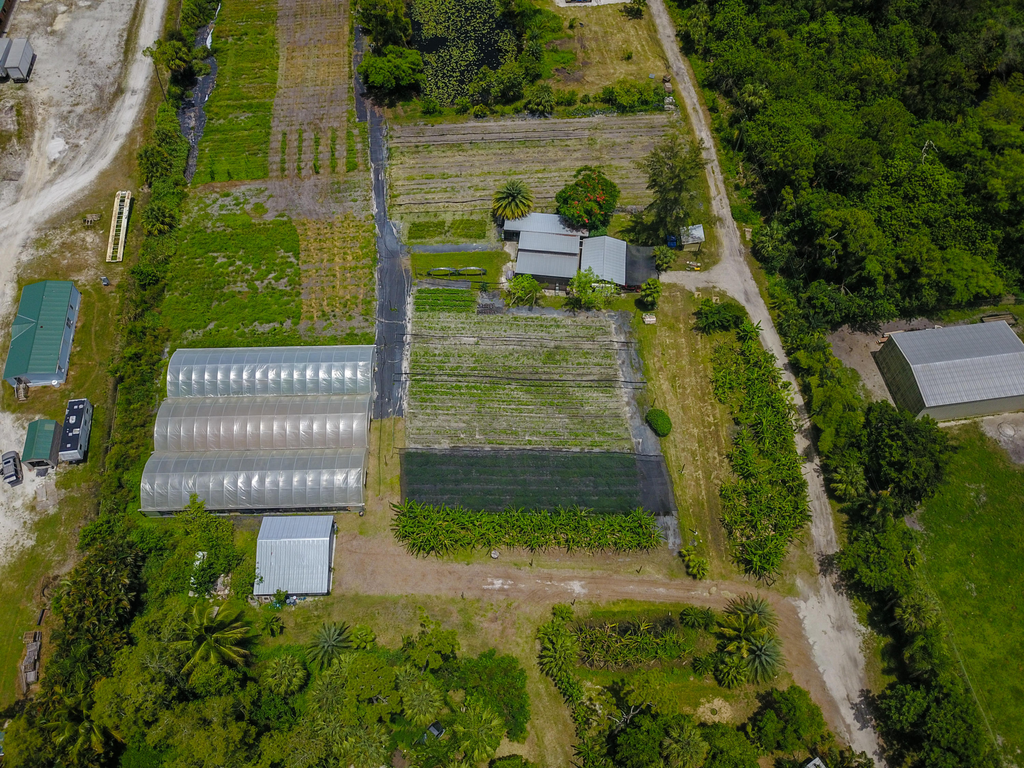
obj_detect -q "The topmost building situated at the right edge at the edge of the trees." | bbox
[880,320,1024,419]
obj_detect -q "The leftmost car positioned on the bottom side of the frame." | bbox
[0,449,20,488]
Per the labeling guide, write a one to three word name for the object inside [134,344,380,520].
greenhouse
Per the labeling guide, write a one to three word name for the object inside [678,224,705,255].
shed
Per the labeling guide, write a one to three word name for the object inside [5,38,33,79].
trailer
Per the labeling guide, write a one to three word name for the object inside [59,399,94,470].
camper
